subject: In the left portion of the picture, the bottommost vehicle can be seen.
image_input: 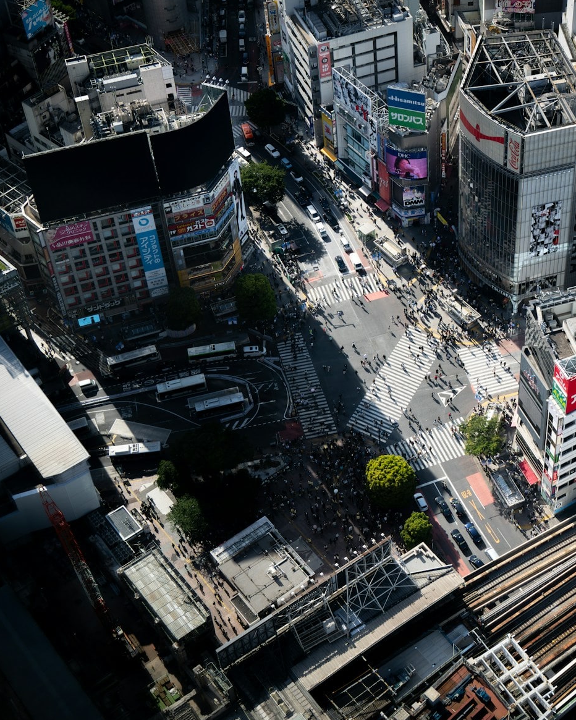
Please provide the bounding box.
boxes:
[103,446,161,471]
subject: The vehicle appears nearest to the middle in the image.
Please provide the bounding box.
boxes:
[242,344,266,357]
